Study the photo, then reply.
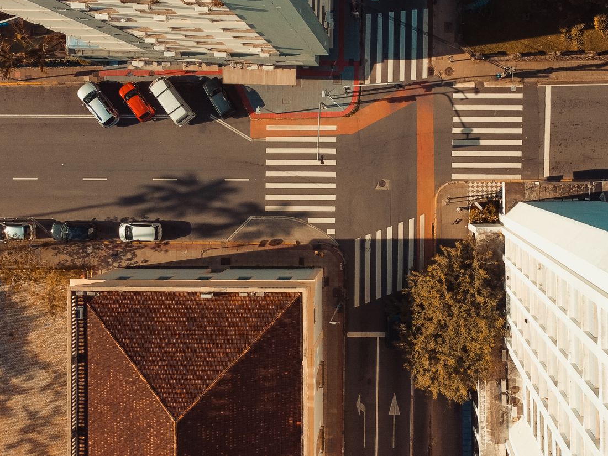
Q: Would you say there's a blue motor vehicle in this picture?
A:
No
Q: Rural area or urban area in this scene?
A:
urban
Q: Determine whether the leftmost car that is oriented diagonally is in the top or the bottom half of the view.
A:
top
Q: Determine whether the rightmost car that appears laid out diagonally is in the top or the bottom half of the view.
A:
top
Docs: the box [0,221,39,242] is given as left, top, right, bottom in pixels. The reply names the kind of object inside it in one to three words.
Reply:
car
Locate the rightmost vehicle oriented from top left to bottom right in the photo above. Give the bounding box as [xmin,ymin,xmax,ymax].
[203,74,240,122]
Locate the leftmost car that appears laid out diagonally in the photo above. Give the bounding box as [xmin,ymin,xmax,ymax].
[78,81,122,130]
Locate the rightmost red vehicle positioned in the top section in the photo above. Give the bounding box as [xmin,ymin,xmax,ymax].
[120,81,157,124]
